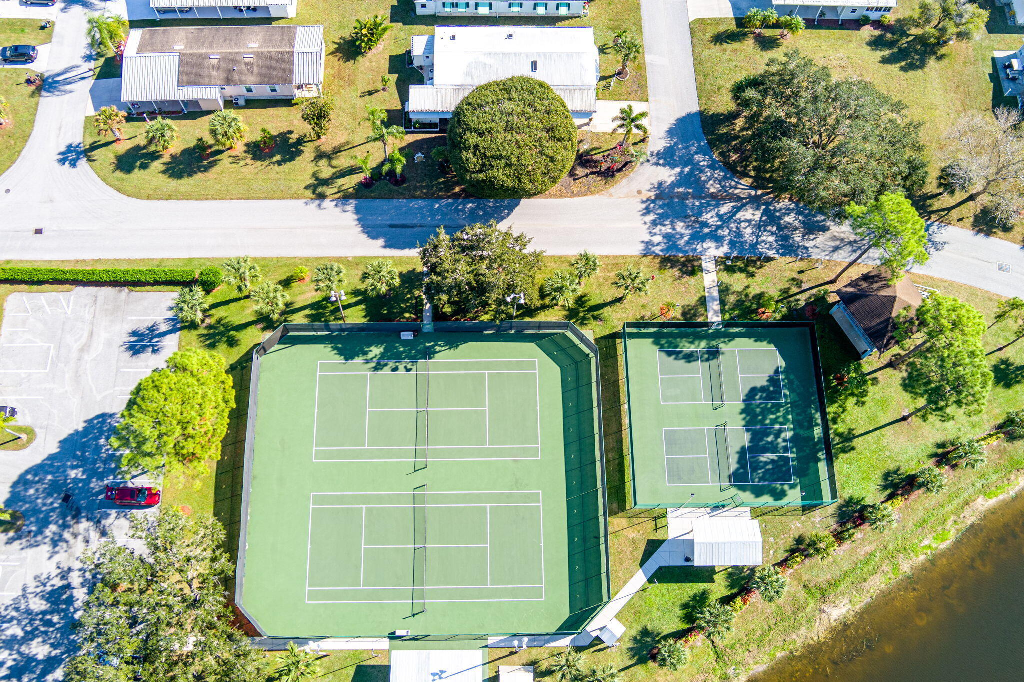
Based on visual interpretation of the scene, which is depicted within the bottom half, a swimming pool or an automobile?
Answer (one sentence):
Visible within the bottom half is an automobile.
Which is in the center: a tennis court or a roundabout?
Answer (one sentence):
Visible in the center is a tennis court.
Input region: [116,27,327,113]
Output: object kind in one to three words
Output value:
house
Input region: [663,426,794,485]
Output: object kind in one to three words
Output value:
sports court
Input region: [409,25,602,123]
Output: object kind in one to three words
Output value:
house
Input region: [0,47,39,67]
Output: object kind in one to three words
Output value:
car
